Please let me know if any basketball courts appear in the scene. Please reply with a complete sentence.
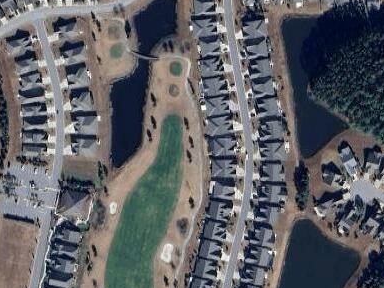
No, no basketball court is visible in the view.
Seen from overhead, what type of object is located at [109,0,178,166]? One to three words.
pond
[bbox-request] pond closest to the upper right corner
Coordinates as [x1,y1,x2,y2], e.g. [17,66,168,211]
[282,11,374,157]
